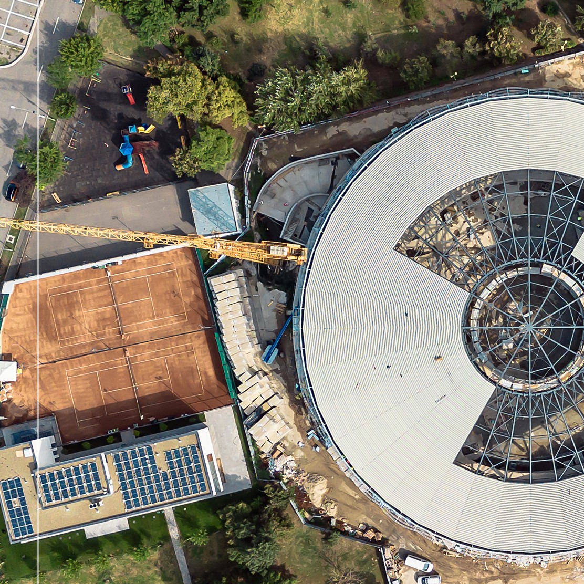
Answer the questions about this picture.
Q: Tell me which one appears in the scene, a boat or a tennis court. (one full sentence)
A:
There is a tennis court in the scene.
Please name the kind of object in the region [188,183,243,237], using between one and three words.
shed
